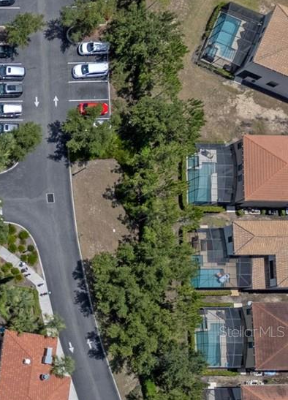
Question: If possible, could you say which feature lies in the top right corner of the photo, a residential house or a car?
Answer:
residential house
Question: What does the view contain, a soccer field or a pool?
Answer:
pool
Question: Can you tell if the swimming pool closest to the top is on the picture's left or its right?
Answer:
right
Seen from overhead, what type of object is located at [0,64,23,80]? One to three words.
car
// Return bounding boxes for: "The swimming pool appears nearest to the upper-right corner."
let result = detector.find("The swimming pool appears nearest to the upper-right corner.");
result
[207,10,241,57]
